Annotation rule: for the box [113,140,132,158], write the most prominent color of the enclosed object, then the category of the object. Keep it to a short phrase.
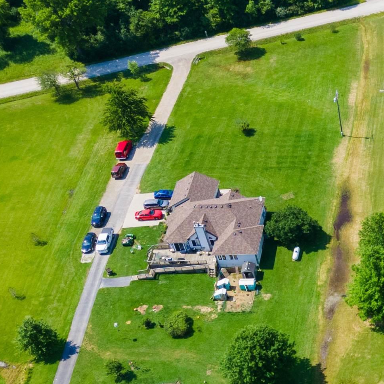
red vehicle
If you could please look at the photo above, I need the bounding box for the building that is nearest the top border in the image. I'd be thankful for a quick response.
[162,170,272,267]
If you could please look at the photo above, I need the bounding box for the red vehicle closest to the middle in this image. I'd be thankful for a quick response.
[133,208,165,221]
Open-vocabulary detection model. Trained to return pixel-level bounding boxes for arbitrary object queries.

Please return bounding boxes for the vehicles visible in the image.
[109,164,127,180]
[93,227,115,252]
[89,204,108,227]
[78,233,97,253]
[140,196,169,209]
[149,189,172,199]
[113,140,132,158]
[133,208,165,221]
